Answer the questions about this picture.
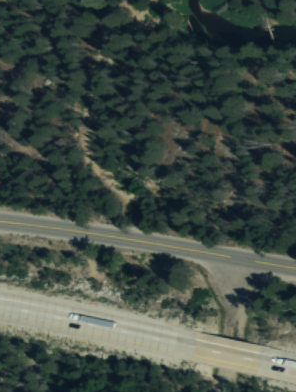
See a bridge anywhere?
Yes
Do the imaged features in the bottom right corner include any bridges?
Yes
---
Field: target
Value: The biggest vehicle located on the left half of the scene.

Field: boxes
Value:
[69,314,118,327]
